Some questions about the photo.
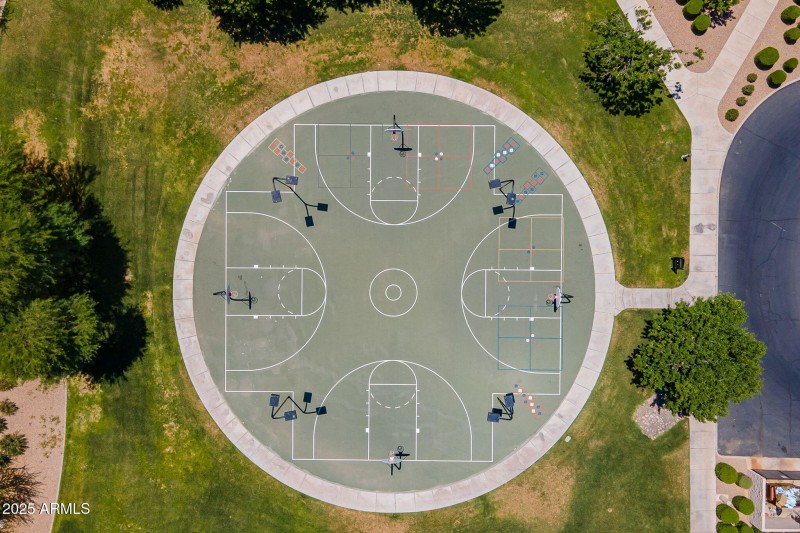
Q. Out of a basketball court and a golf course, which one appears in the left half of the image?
basketball court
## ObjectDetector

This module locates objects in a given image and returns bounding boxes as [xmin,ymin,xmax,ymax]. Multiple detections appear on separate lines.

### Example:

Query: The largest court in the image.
[194,91,594,492]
